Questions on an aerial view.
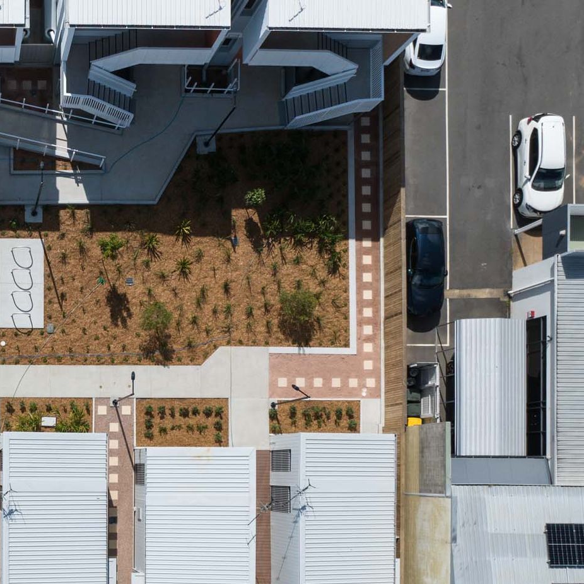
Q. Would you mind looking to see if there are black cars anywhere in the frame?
Yes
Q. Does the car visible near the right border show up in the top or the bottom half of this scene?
top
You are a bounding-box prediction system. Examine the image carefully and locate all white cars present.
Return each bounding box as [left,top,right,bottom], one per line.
[513,111,572,213]
[415,0,449,73]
